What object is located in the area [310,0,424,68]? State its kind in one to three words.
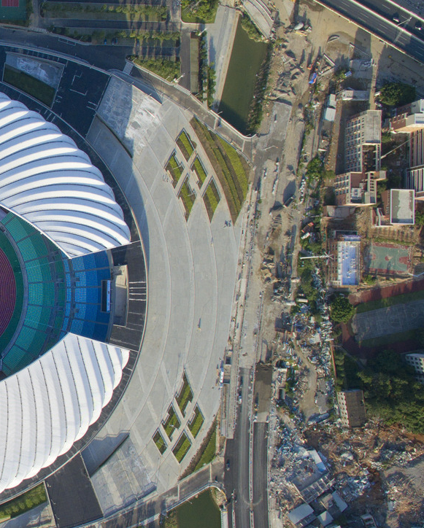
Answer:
overpass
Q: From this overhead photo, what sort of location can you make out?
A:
sports ground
